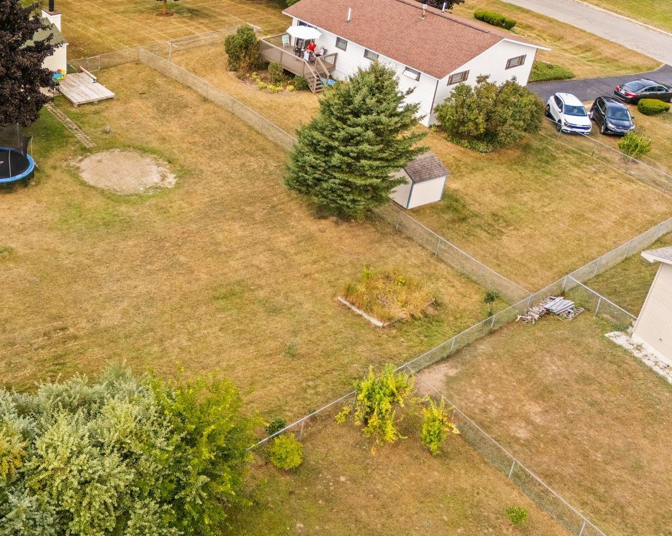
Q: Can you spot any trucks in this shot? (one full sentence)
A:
No, there isn't any truck down there.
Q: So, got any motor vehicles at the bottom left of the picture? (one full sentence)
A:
No, no motor vehicle can be made out at the bottom left of the picture.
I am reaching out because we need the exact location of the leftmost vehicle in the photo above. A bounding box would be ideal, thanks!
[548,91,592,132]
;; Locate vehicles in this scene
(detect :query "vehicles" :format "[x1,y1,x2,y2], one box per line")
[591,90,637,132]
[548,91,592,132]
[618,78,672,106]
